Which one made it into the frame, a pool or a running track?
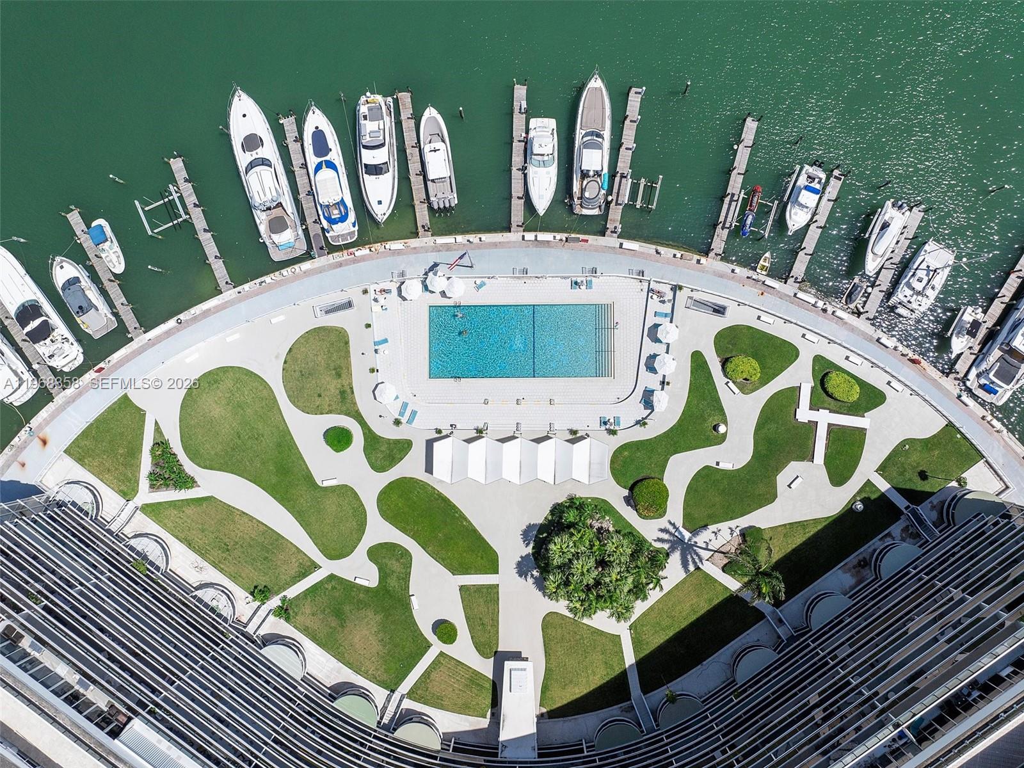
pool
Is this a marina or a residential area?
marina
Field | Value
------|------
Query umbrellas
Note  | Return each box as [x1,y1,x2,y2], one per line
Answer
[375,382,397,404]
[444,276,464,297]
[401,278,424,301]
[649,391,670,412]
[426,271,447,292]
[656,322,678,344]
[655,353,676,375]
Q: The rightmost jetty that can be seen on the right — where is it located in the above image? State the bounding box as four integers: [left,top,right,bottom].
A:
[947,242,1024,381]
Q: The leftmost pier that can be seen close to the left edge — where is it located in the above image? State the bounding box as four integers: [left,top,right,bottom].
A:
[0,299,64,402]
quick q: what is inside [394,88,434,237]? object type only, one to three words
pier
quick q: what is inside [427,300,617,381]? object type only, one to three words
swimming pool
